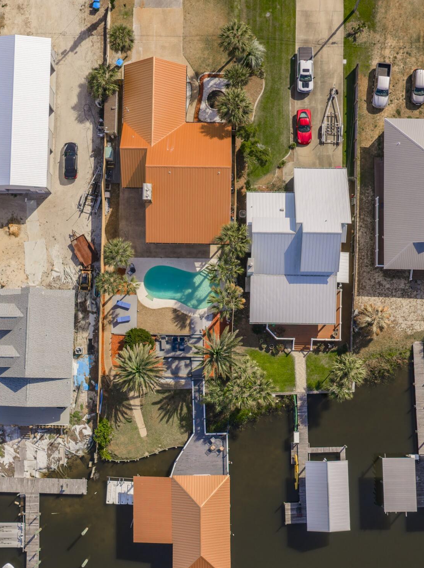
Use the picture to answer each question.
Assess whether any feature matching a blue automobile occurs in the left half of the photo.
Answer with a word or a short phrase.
No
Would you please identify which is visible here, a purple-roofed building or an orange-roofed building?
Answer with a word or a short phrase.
orange-roofed building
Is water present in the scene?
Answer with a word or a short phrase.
Yes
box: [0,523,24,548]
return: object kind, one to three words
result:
pier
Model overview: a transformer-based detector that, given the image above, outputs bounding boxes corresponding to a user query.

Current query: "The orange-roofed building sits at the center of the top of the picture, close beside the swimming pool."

[120,56,232,245]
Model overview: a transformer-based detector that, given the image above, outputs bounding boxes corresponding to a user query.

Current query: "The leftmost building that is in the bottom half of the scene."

[0,287,76,437]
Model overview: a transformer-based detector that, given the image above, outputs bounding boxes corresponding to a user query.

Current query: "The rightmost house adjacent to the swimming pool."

[243,167,351,352]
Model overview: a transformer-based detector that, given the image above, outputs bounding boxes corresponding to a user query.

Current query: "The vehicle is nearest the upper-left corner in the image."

[62,143,80,180]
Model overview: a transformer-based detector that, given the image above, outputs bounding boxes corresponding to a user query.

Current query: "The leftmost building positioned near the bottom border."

[133,474,231,568]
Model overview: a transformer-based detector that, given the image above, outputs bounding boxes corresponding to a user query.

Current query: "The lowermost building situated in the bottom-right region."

[304,460,350,532]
